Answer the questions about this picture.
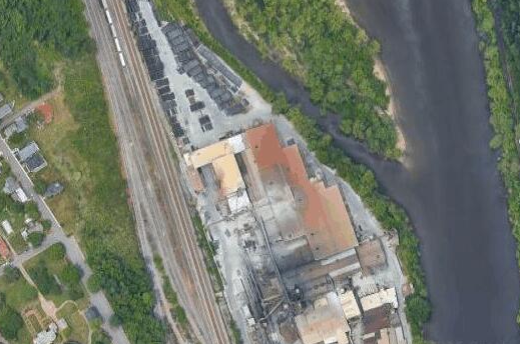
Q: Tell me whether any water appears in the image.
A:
Yes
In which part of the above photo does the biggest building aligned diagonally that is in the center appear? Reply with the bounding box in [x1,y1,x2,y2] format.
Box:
[245,124,358,261]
